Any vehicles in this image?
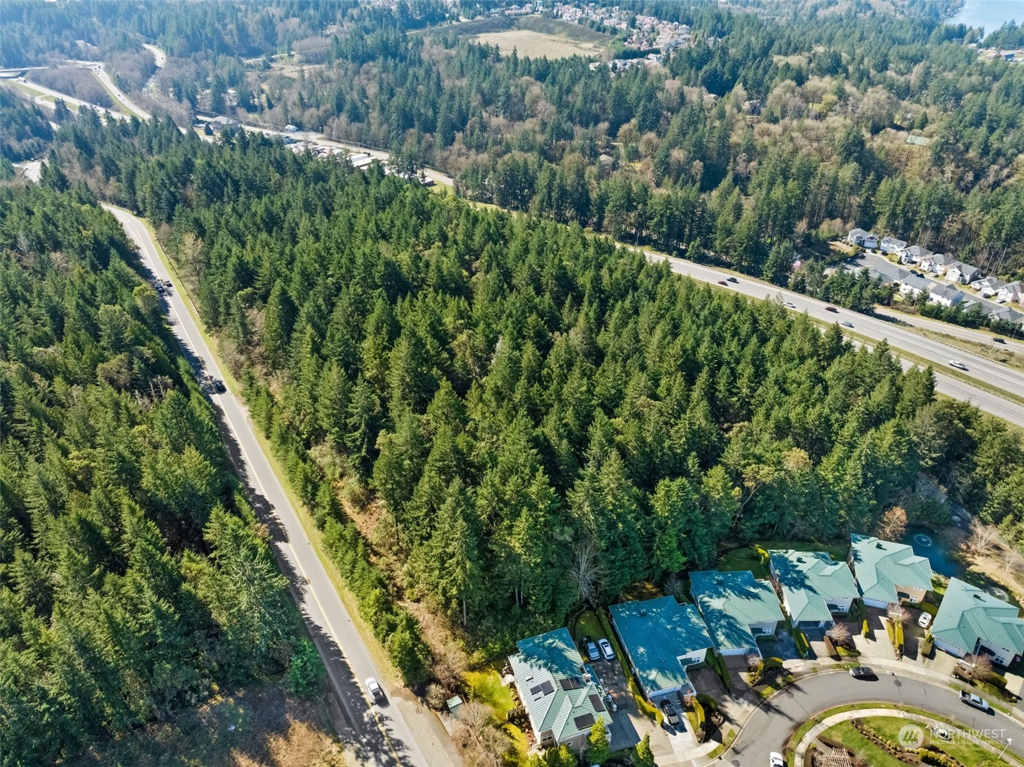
Yes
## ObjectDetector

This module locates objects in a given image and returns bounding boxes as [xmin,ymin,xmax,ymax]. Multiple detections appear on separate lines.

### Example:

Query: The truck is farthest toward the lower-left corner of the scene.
[366,677,387,706]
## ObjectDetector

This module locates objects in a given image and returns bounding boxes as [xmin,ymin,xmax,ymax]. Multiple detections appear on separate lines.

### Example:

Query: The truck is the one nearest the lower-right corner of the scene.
[956,688,992,712]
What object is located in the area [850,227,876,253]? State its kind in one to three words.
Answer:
house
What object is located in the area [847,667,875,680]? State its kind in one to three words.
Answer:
vehicle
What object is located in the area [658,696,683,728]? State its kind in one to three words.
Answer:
truck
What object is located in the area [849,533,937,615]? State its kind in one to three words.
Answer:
building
